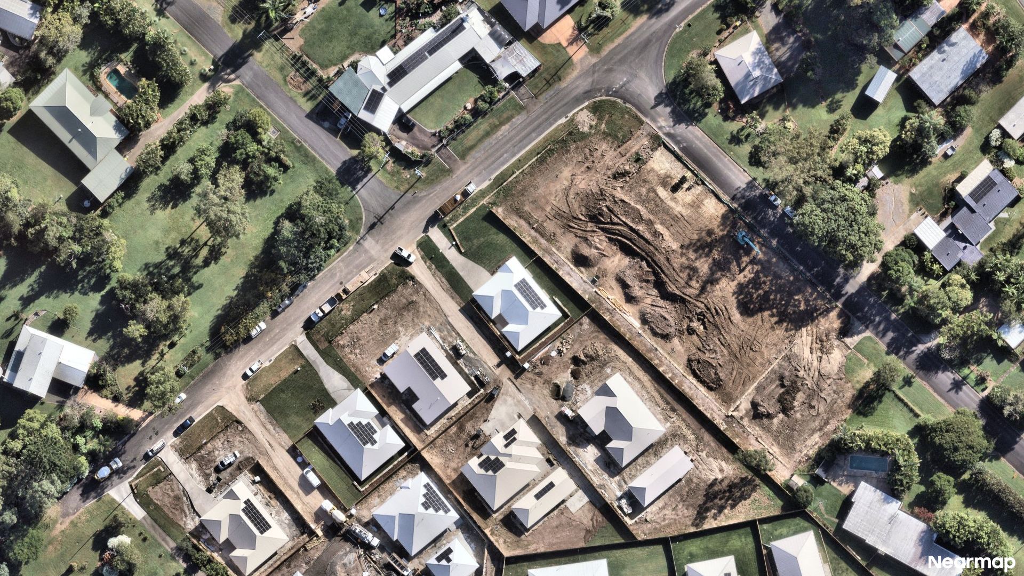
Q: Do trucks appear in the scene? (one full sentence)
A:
Yes, there is a truck in the image.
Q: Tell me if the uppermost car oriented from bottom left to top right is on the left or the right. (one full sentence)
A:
It is on the left.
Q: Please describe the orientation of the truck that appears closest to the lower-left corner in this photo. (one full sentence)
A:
The truck that appears closest to the lower-left corner is oriented at an angle.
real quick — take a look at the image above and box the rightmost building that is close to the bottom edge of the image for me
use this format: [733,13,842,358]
[842,481,966,576]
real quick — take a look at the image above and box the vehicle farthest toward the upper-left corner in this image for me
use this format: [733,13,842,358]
[333,108,354,134]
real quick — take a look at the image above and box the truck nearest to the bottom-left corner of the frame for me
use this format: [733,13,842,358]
[86,450,129,486]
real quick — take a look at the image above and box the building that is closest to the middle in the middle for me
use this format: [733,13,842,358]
[472,256,563,352]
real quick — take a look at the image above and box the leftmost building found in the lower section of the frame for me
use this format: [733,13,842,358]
[2,324,95,398]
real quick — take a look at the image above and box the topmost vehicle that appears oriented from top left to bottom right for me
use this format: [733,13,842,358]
[397,111,421,133]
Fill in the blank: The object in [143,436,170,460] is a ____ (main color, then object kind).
white truck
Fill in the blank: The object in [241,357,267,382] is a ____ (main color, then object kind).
white truck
